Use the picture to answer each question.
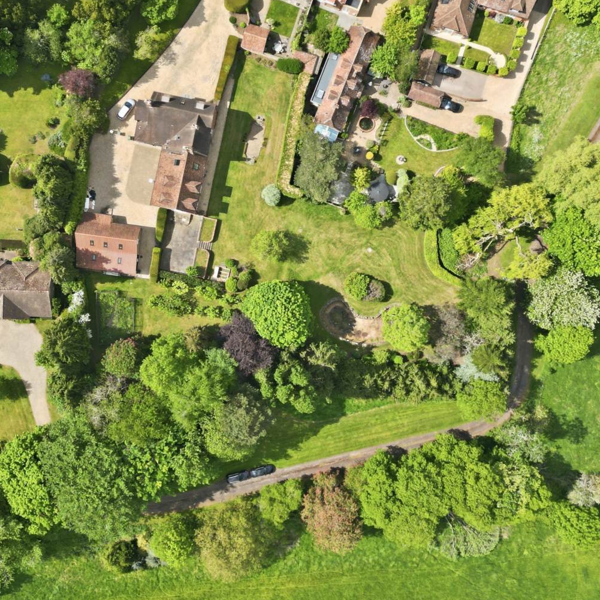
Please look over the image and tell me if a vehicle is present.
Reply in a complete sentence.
Yes, a vehicle is visible in the scene.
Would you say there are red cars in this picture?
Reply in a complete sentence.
No, there isn't any red car down there.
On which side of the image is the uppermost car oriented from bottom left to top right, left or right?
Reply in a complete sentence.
The uppermost car oriented from bottom left to top right appears in the left half of the scene.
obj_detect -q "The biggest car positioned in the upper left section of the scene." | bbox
[115,97,138,124]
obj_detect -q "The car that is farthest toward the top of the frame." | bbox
[435,64,462,81]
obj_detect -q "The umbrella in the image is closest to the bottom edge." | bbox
[369,182,389,202]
